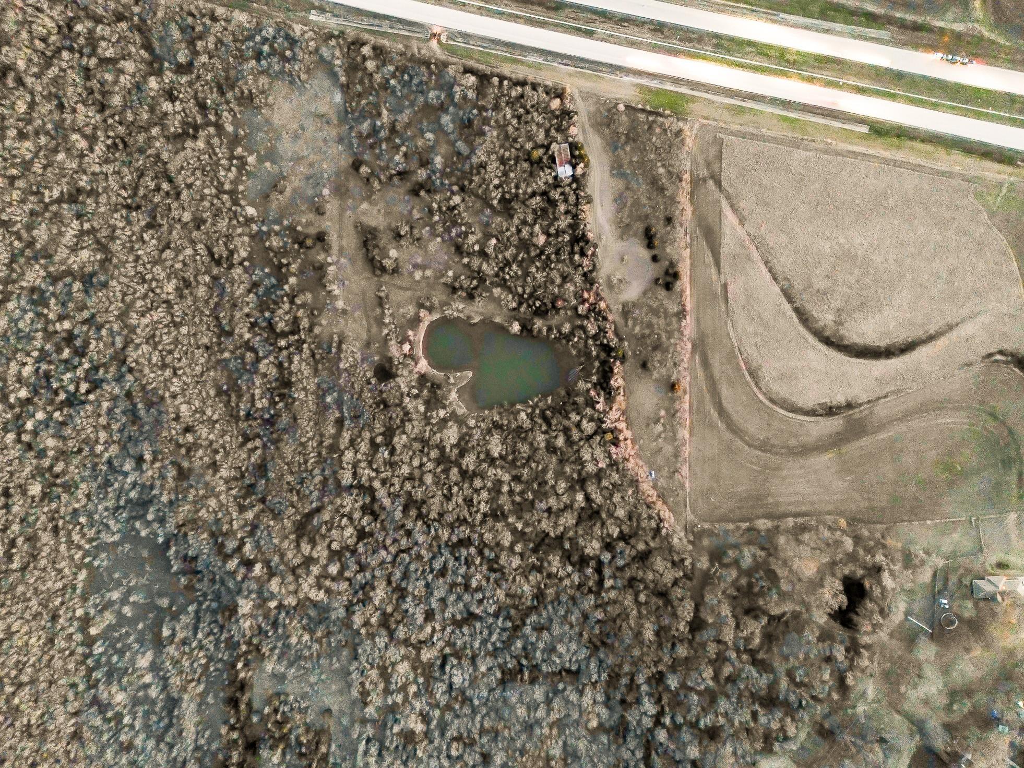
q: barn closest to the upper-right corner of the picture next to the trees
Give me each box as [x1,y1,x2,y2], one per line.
[557,143,573,176]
